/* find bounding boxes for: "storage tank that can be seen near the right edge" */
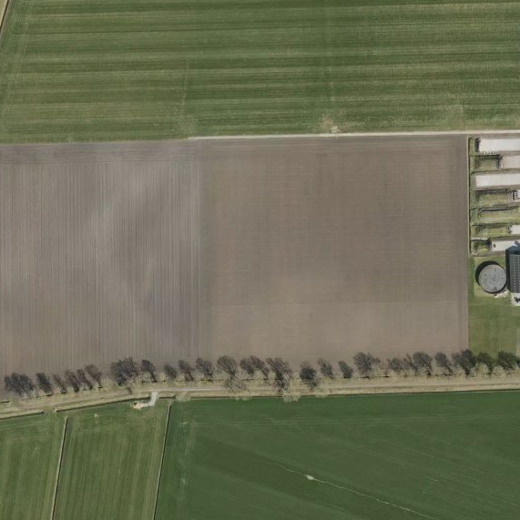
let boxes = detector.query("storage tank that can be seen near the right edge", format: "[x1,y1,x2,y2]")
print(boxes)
[478,265,506,295]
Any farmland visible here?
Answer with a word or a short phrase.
Yes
